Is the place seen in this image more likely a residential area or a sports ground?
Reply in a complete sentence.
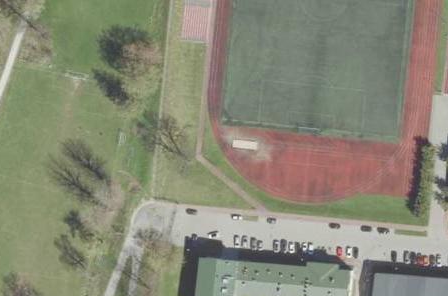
The picture captures a sports ground.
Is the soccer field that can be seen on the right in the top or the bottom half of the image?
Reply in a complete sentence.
The soccer field that can be seen on the right sits in the top half of the picture.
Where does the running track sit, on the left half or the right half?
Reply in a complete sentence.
It is on the right.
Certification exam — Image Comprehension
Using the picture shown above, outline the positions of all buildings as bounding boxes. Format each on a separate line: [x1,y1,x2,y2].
[373,272,448,296]
[196,257,355,296]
